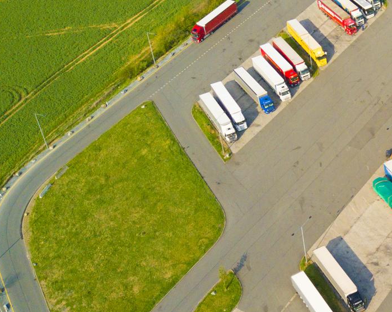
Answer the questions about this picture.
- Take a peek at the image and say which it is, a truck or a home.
truck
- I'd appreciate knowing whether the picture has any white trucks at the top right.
Yes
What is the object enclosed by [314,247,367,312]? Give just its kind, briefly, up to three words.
truck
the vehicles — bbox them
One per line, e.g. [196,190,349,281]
[211,82,247,132]
[252,56,291,103]
[349,0,376,19]
[331,0,366,26]
[314,247,367,312]
[366,0,382,10]
[233,67,275,114]
[262,44,300,89]
[191,0,237,43]
[199,93,237,143]
[374,174,392,206]
[291,271,333,312]
[319,0,358,36]
[273,37,311,83]
[289,21,326,66]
